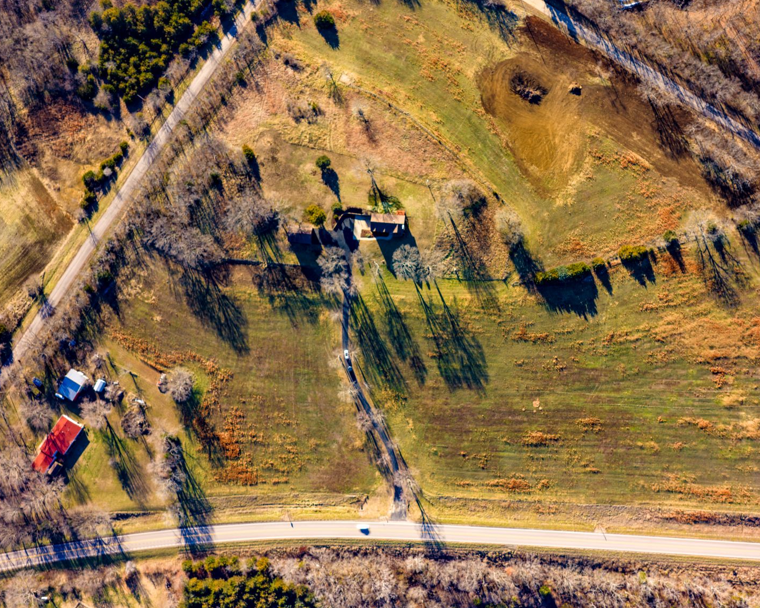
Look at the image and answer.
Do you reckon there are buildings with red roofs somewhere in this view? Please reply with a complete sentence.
Yes, a building with a red roof can be made out from above.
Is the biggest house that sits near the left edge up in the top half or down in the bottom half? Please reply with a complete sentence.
The biggest house that sits near the left edge is in the bottom half of the image.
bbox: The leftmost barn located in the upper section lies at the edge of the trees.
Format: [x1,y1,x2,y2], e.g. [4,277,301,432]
[285,223,321,245]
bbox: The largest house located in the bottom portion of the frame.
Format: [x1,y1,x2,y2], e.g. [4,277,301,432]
[34,413,88,472]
